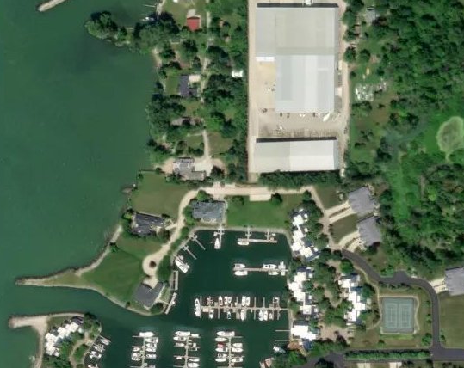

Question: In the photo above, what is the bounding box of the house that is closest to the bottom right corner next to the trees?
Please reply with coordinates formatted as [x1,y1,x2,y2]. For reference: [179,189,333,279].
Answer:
[445,268,464,294]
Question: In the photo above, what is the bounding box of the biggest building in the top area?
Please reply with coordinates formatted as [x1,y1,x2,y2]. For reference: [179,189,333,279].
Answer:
[255,6,338,113]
